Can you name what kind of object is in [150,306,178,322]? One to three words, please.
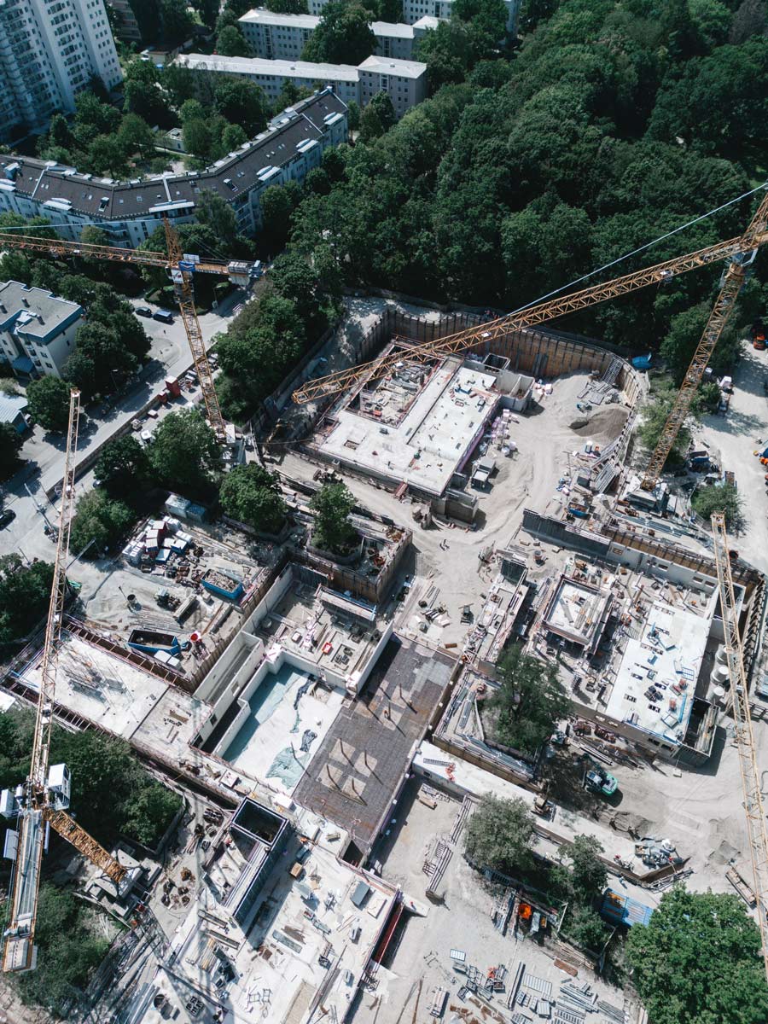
vehicle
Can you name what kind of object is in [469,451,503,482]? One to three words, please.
truck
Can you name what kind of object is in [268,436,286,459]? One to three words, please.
work vehicle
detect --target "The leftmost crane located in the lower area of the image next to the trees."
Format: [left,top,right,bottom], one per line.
[2,388,148,976]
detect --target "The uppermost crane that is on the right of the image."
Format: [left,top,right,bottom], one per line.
[286,166,768,503]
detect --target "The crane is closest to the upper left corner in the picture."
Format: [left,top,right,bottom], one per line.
[0,208,266,445]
